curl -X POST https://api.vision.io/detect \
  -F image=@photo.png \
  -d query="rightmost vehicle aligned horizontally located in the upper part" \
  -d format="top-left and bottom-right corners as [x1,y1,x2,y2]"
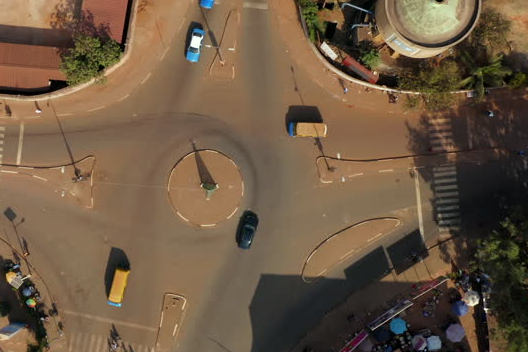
[286,120,326,139]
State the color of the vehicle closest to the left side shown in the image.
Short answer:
orange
